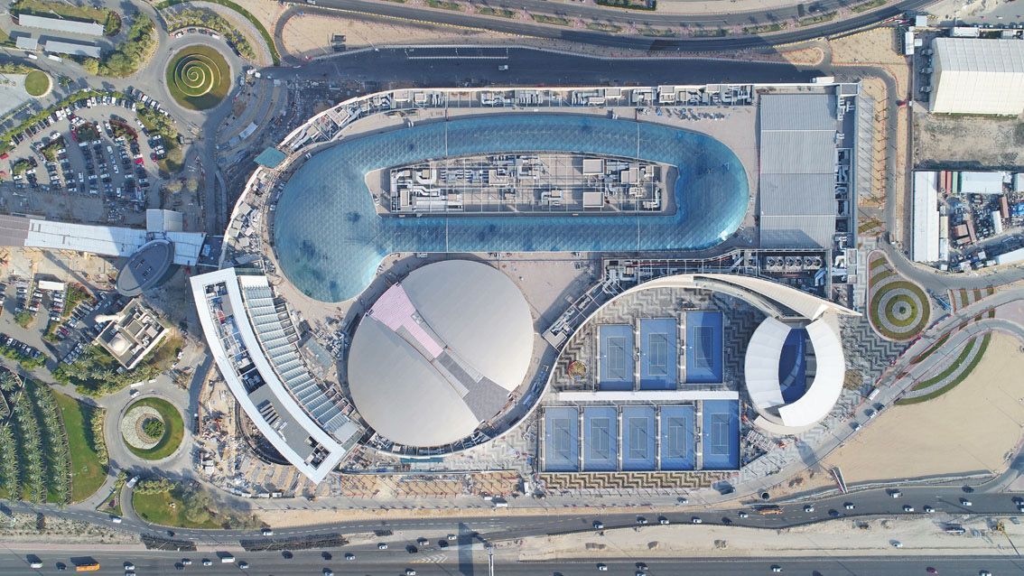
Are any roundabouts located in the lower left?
Yes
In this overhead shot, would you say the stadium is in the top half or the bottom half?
bottom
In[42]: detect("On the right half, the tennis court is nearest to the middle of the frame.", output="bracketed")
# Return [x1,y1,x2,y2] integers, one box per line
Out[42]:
[596,324,634,391]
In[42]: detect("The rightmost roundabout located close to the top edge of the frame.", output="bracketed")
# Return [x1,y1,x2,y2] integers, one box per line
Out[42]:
[145,25,251,130]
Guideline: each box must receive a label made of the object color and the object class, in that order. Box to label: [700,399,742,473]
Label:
blue tennis court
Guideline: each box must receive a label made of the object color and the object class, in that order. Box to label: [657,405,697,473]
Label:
blue tennis court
